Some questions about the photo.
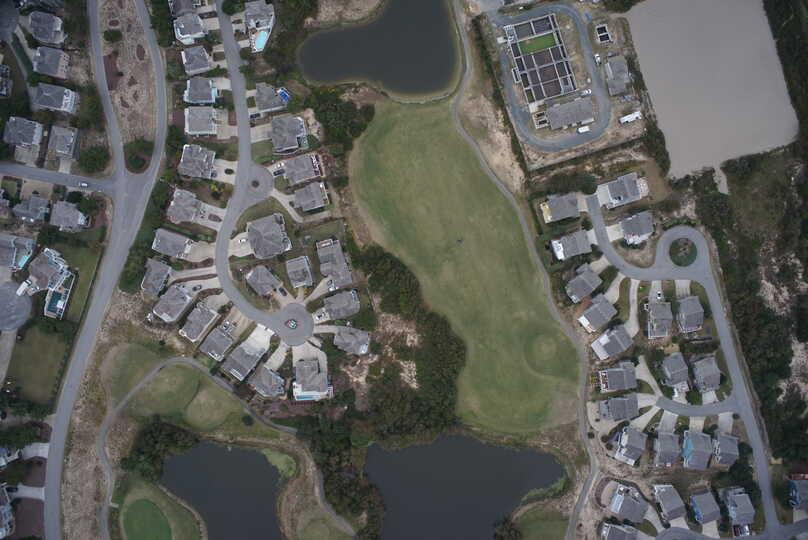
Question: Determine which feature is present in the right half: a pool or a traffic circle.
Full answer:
You can see a traffic circle in the right half.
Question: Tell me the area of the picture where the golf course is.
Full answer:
Look in the center portion of the view to spot the golf course.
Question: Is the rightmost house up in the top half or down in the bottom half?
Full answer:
You can find the rightmost house in the bottom half.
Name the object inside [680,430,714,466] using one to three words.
house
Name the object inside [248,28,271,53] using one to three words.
swimming pool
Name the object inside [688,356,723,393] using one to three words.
house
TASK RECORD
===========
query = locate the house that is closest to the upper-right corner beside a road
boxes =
[600,55,634,98]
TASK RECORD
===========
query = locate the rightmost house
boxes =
[780,471,808,509]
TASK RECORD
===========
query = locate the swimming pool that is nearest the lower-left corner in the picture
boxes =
[43,288,68,318]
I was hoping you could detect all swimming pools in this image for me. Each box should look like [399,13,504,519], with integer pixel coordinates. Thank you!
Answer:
[294,388,327,401]
[43,288,68,318]
[17,248,33,268]
[248,28,271,53]
[279,86,292,99]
